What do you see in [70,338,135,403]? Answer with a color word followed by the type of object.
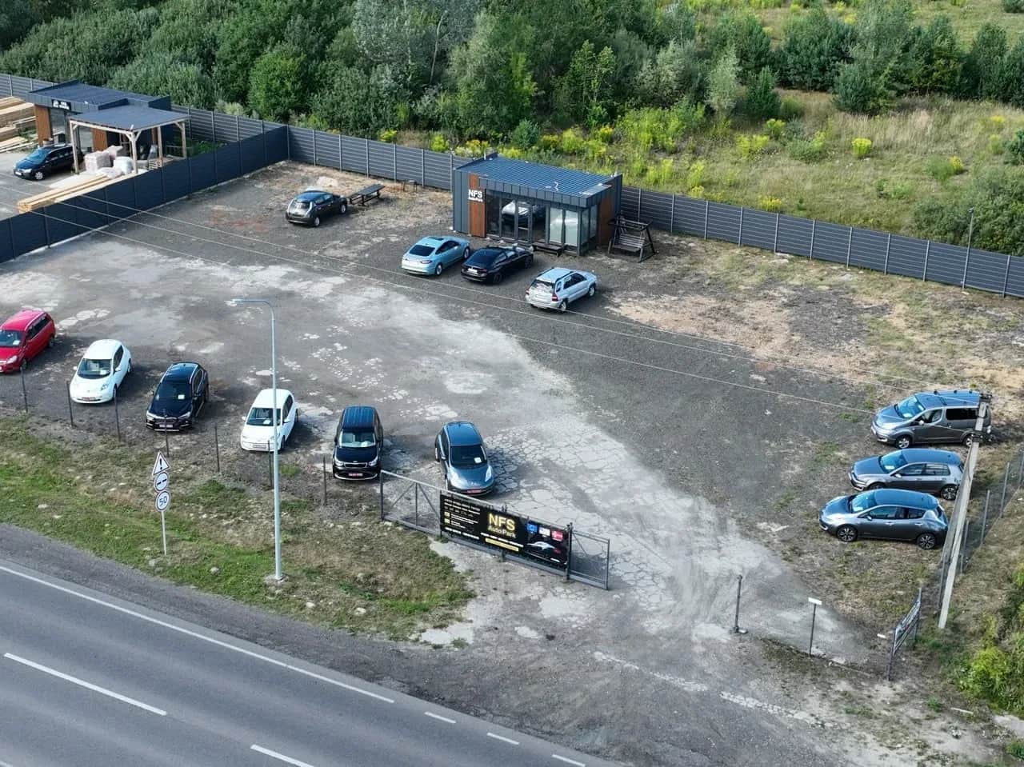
white car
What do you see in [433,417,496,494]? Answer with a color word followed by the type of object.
blue car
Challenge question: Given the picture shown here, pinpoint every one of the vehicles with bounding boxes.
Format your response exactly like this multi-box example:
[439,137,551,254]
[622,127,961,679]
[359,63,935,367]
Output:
[283,187,349,227]
[433,417,496,494]
[70,338,135,403]
[458,243,536,283]
[821,487,953,549]
[329,408,390,487]
[10,138,85,180]
[872,387,998,447]
[523,263,600,312]
[147,355,216,425]
[399,235,473,276]
[0,306,56,371]
[853,443,974,499]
